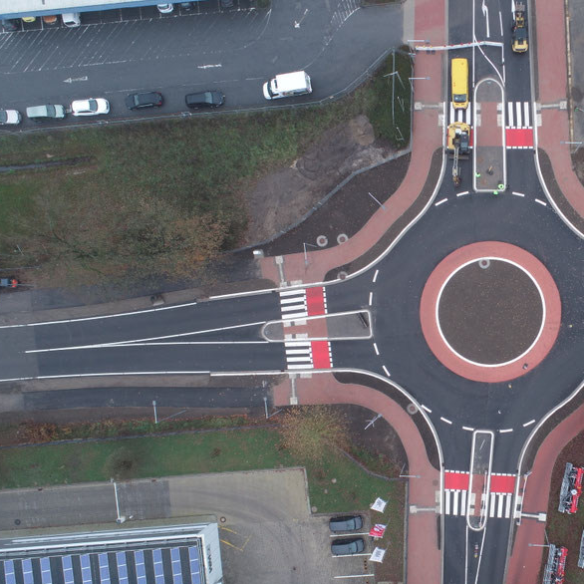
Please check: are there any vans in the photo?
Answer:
Yes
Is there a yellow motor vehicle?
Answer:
Yes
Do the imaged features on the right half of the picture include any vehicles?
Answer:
Yes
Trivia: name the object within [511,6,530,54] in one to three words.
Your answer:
work vehicle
